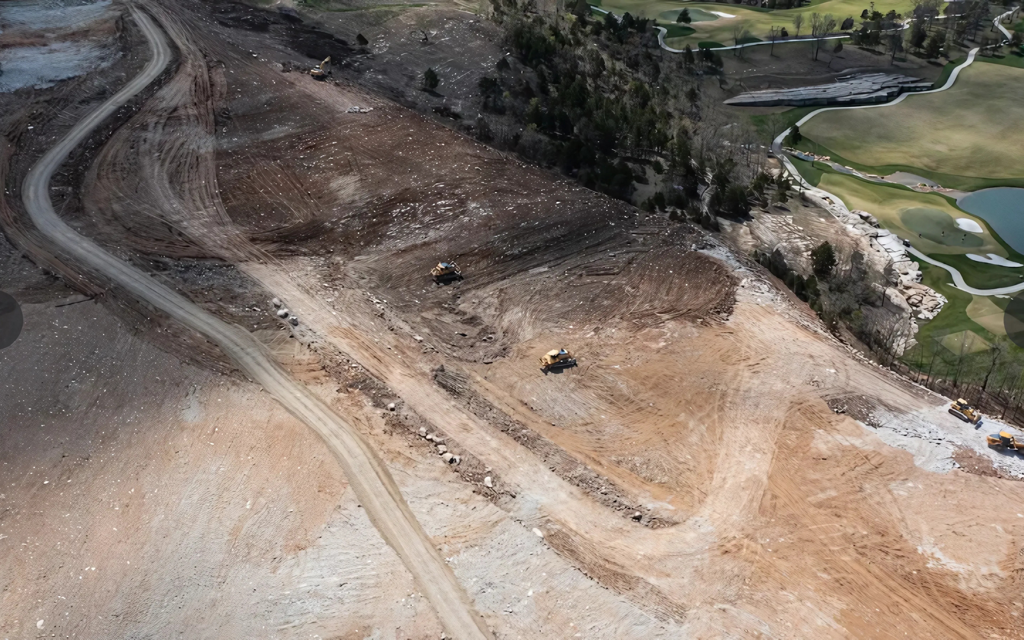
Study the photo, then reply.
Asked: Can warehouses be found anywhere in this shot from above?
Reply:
No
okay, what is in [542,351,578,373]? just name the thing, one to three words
work vehicle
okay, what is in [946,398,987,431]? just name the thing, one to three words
work vehicle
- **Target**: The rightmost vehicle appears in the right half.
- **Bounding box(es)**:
[992,428,1024,454]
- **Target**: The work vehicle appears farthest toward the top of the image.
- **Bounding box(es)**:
[310,52,338,78]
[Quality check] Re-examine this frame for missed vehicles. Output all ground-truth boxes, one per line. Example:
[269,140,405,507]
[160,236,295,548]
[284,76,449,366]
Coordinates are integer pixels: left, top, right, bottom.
[992,428,1024,454]
[542,351,578,373]
[310,52,338,78]
[946,398,987,431]
[432,263,463,283]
